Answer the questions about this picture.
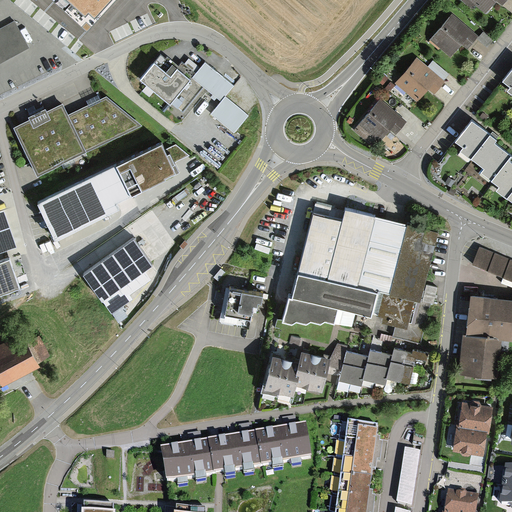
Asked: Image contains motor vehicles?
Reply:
Yes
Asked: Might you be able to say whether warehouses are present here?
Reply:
Yes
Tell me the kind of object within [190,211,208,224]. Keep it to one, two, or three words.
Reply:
vehicle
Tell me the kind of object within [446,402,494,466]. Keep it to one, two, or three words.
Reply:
house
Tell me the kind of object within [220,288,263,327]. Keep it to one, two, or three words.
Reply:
building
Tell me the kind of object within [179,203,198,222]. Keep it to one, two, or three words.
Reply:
vehicle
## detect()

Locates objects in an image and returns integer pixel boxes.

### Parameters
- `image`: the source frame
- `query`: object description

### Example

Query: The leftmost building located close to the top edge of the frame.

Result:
[0,22,30,65]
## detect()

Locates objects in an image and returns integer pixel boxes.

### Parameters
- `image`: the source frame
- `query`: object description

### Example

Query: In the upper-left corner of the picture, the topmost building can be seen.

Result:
[57,0,120,30]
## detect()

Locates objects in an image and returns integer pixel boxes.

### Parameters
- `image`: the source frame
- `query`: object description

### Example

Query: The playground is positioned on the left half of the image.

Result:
[130,460,164,494]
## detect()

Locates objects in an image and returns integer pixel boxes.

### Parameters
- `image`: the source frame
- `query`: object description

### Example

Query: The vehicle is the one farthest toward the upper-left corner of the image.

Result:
[18,24,32,44]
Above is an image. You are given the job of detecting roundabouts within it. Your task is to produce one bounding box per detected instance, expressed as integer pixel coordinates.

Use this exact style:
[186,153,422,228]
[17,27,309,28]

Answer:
[266,94,336,162]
